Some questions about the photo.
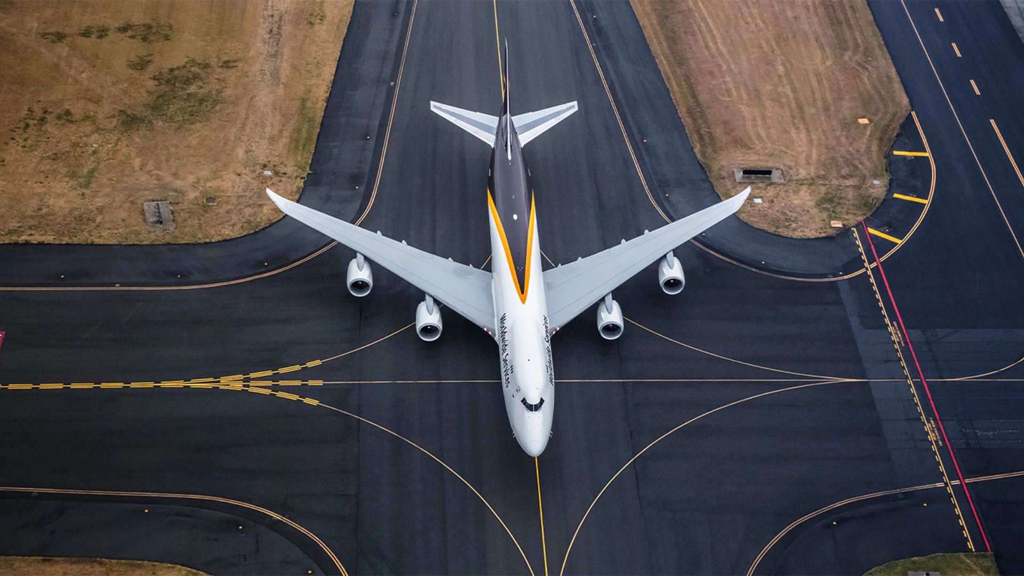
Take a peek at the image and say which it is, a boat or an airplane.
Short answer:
airplane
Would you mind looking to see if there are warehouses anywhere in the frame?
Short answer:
No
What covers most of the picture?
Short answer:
paved ground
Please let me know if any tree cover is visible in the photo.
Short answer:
No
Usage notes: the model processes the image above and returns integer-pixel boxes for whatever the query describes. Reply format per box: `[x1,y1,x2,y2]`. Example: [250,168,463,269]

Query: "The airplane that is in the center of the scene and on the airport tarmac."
[266,38,752,461]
